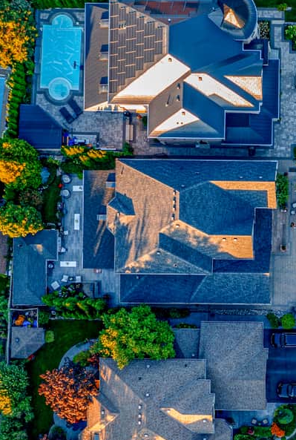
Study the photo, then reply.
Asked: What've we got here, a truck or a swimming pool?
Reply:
swimming pool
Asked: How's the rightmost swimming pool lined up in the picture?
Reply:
up and down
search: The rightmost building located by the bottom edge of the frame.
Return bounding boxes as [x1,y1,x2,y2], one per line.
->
[78,320,267,440]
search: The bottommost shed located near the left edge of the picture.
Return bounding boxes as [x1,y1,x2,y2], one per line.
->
[9,326,48,360]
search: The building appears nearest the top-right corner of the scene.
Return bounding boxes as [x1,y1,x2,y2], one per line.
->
[82,0,281,146]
